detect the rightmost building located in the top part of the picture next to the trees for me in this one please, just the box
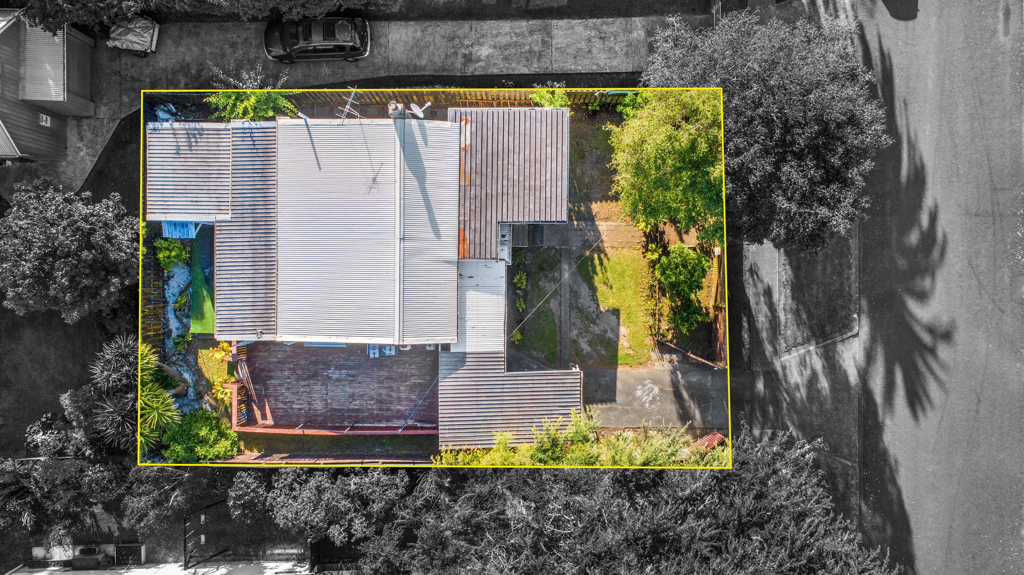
[146,97,571,351]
